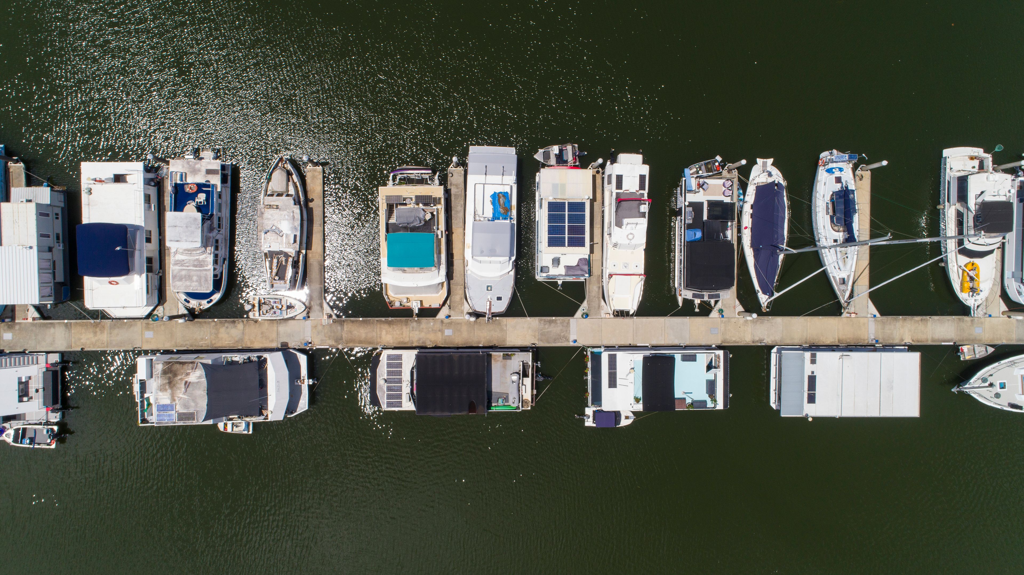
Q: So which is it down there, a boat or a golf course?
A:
boat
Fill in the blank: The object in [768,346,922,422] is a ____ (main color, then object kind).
white boat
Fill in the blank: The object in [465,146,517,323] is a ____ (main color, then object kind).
white boat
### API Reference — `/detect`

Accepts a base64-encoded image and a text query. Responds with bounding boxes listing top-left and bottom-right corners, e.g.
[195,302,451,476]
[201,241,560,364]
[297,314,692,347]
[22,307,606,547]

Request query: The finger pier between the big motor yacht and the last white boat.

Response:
[977,245,1008,316]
